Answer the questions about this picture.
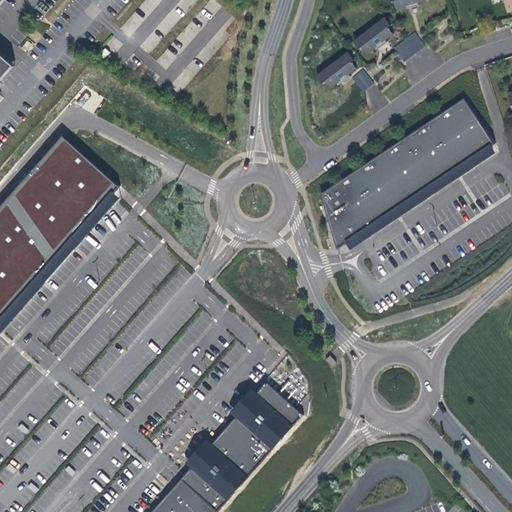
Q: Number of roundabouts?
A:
2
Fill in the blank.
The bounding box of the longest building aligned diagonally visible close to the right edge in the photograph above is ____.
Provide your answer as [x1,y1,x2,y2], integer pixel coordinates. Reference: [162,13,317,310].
[322,98,500,254]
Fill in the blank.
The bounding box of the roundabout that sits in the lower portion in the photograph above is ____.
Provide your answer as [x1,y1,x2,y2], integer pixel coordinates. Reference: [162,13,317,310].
[340,332,442,459]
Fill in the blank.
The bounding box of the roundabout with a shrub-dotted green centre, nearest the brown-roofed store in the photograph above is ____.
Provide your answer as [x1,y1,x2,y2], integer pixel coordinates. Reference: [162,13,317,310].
[206,94,317,258]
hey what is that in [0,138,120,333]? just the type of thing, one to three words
building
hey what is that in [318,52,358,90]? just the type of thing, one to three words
house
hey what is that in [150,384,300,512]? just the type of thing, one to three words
building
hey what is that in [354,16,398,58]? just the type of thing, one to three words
house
